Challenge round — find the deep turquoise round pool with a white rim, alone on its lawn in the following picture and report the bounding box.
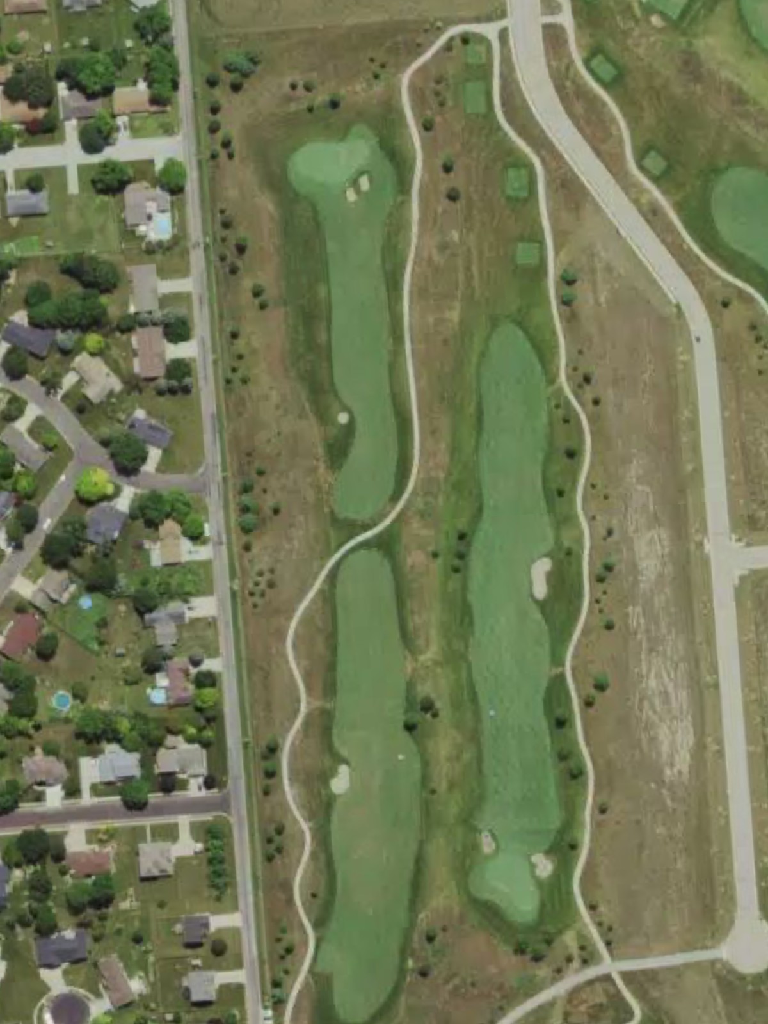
[53,693,70,710]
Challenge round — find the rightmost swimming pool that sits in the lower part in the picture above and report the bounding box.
[147,687,168,705]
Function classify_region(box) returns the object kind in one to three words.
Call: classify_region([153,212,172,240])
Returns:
swimming pool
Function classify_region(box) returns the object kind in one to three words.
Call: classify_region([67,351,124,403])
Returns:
house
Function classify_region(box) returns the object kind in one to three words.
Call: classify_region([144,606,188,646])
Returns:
house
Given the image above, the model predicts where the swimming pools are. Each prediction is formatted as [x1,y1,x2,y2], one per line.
[79,596,92,608]
[53,693,70,710]
[153,212,172,240]
[147,687,168,705]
